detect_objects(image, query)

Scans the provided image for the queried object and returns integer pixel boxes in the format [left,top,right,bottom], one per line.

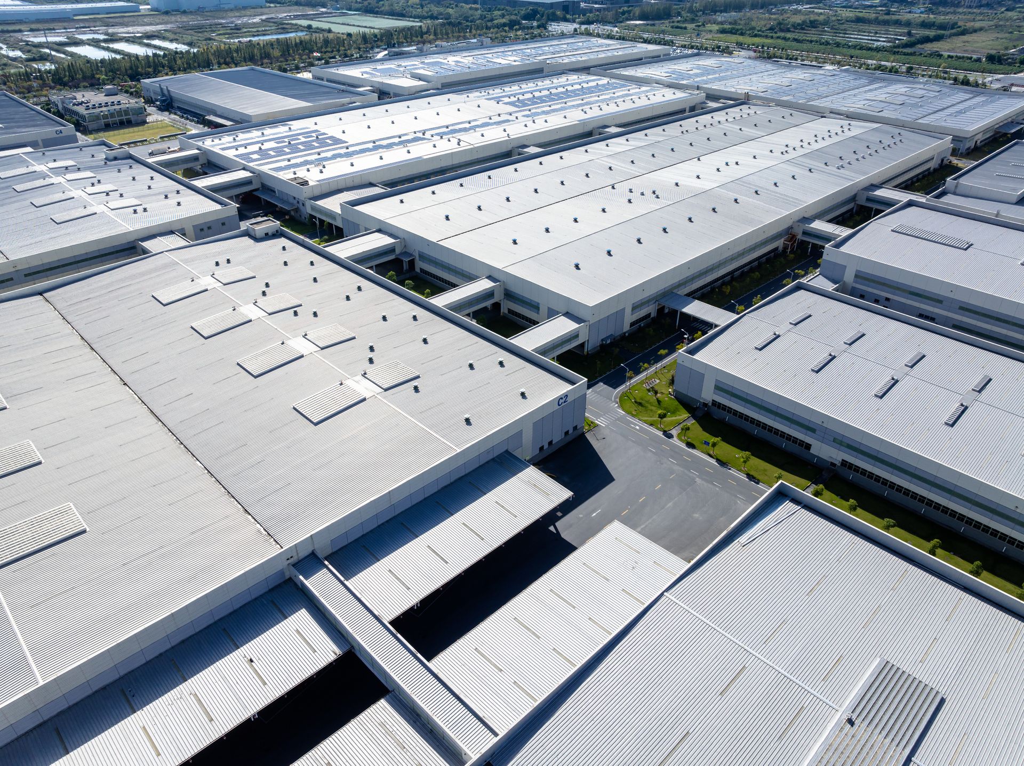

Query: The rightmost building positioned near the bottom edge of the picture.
[472,483,1024,766]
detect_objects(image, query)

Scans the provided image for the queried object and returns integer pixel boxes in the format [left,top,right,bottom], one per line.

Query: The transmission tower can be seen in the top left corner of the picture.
[29,0,54,59]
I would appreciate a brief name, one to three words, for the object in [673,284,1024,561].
building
